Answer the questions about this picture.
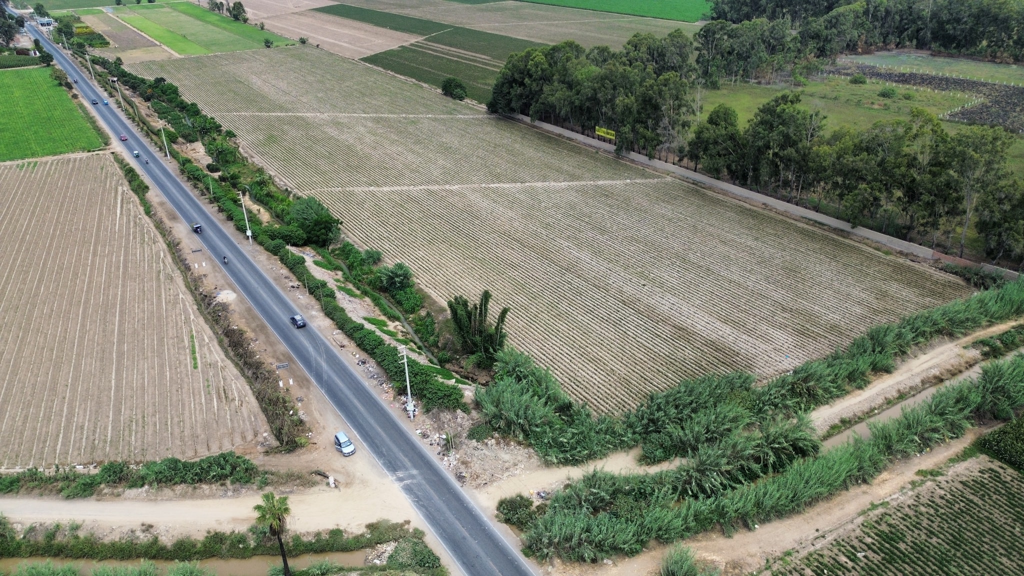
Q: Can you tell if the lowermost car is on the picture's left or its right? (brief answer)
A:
left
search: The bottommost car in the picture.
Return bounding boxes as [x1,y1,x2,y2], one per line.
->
[333,430,356,454]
